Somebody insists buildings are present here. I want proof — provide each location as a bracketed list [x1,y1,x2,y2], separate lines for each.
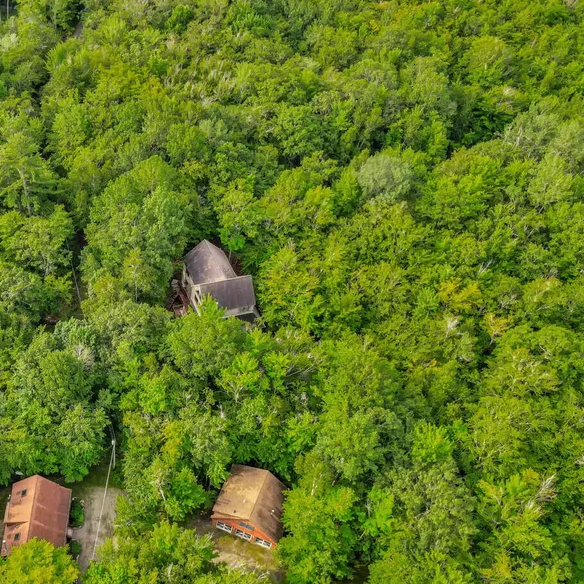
[211,465,288,544]
[0,477,73,557]
[168,240,256,334]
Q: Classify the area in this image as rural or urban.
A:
rural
